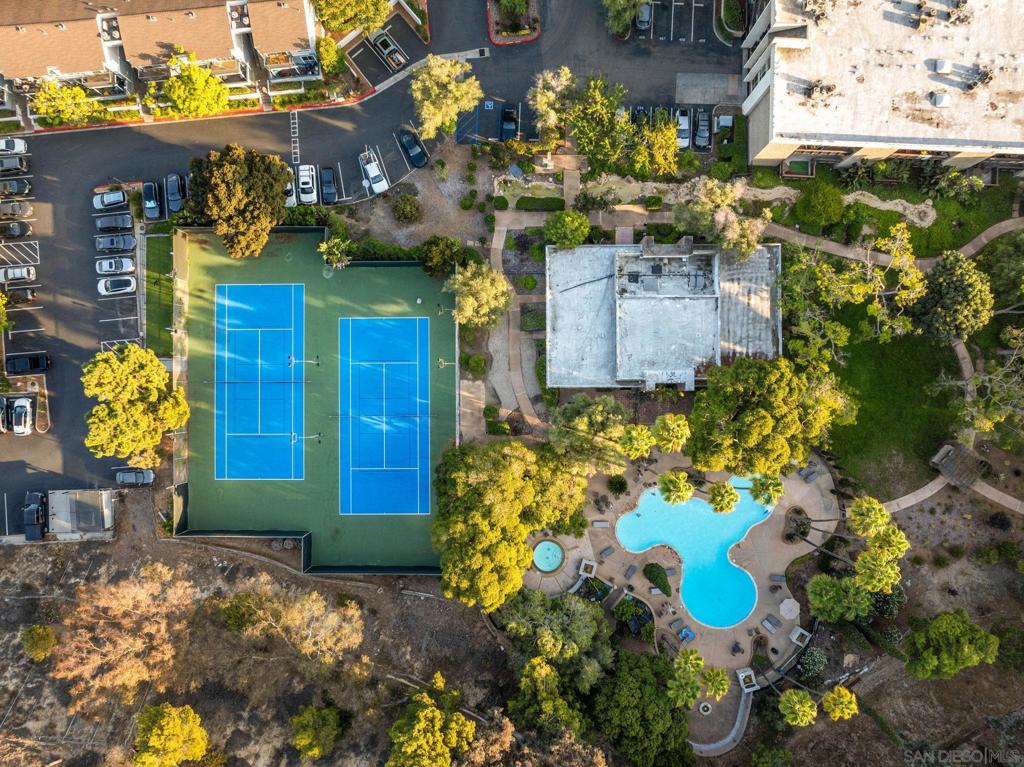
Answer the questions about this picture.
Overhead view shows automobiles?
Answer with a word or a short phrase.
Yes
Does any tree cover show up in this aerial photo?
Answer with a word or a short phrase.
Yes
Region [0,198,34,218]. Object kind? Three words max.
car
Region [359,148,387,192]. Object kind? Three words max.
truck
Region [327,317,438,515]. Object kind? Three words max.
tennis court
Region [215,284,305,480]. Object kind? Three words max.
tennis court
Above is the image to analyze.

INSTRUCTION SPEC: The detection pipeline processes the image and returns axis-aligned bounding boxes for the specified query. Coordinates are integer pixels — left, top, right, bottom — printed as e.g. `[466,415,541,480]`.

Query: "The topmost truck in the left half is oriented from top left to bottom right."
[369,26,405,67]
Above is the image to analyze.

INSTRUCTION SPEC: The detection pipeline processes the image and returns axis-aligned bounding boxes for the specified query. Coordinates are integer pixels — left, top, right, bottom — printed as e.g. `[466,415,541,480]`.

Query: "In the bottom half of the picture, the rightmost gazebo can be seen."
[923,439,986,494]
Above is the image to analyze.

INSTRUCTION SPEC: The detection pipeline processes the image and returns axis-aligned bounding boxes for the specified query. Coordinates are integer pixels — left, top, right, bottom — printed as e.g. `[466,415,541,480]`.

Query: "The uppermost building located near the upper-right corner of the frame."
[735,0,1024,158]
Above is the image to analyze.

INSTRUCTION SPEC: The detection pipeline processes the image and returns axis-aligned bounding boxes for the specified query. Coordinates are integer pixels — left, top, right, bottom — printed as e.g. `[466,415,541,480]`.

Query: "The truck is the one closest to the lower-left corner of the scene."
[21,493,46,539]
